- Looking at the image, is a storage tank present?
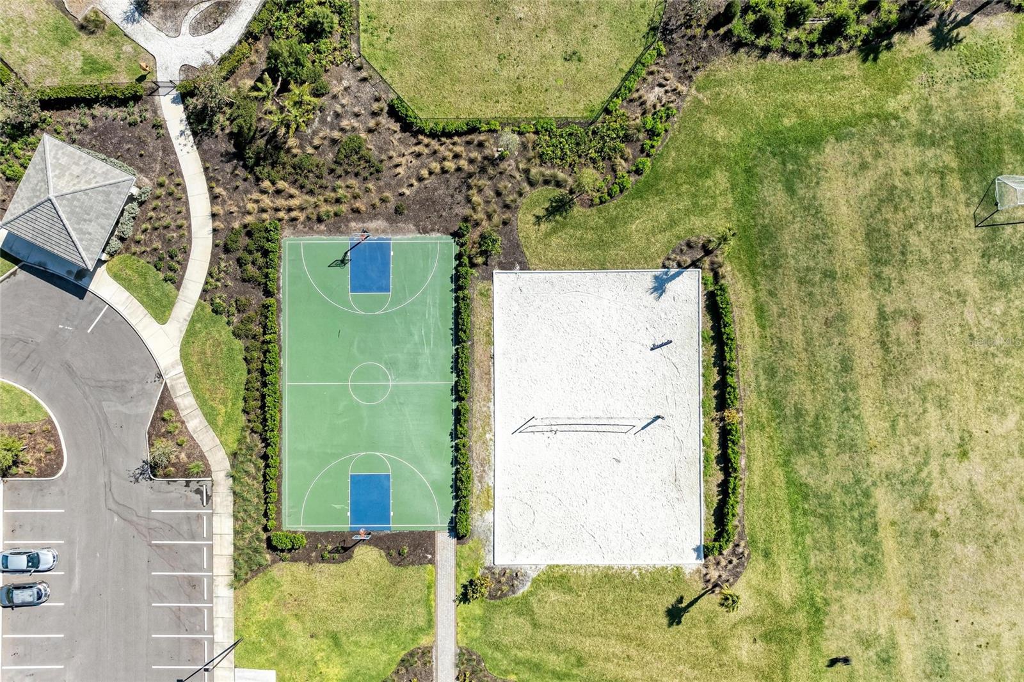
No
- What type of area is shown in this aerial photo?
sports ground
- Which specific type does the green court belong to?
basketball court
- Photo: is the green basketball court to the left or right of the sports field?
left of it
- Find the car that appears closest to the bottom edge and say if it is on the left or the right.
left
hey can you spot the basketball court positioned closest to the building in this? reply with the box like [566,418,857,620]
[282,236,456,531]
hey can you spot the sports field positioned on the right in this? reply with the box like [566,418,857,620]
[456,11,1024,682]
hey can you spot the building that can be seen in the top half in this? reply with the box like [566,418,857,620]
[0,132,140,269]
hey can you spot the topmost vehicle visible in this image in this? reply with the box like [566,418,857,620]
[0,547,59,575]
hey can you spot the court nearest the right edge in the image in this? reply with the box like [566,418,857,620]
[493,268,704,567]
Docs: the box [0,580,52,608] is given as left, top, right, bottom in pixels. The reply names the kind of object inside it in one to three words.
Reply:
car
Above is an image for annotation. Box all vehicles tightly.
[0,580,52,608]
[0,547,59,575]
